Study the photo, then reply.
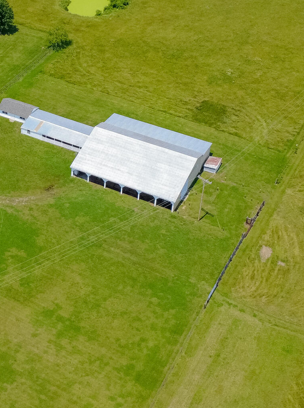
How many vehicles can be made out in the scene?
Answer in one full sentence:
There are no vehicles in this view.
